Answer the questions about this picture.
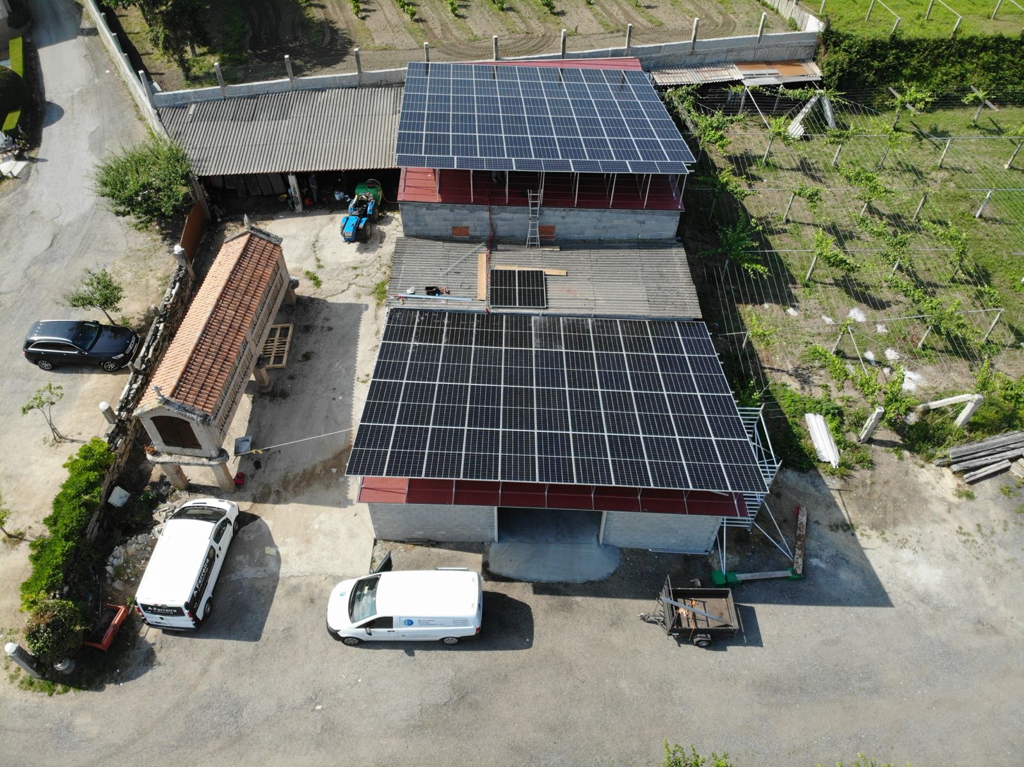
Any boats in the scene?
No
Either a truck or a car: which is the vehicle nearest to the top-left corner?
car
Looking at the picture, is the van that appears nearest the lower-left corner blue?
No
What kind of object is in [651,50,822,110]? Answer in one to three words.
shed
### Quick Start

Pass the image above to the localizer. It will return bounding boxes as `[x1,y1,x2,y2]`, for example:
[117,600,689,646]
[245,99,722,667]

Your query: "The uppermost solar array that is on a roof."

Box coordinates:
[390,61,700,207]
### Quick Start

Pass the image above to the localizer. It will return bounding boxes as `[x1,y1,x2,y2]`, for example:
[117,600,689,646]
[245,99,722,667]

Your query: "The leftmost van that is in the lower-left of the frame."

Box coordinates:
[130,502,240,634]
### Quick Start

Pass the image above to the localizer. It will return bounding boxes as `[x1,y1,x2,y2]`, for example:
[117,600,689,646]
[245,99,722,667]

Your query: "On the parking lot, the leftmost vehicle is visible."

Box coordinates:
[21,321,136,372]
